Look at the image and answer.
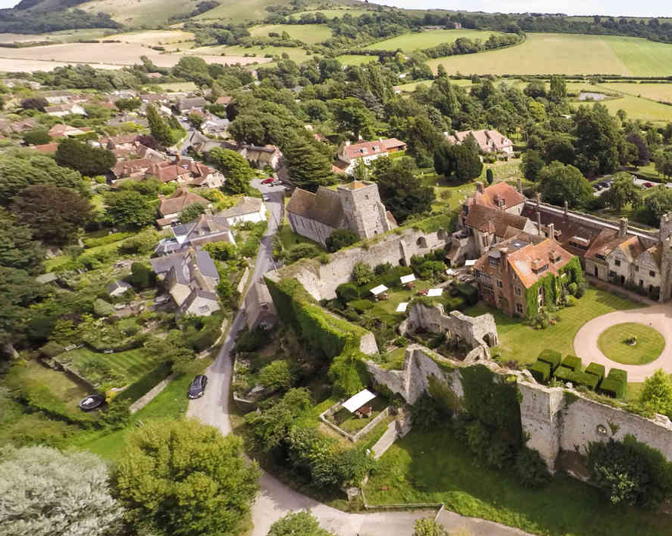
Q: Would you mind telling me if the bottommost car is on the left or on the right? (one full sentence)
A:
The bottommost car is on the left side of the image.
